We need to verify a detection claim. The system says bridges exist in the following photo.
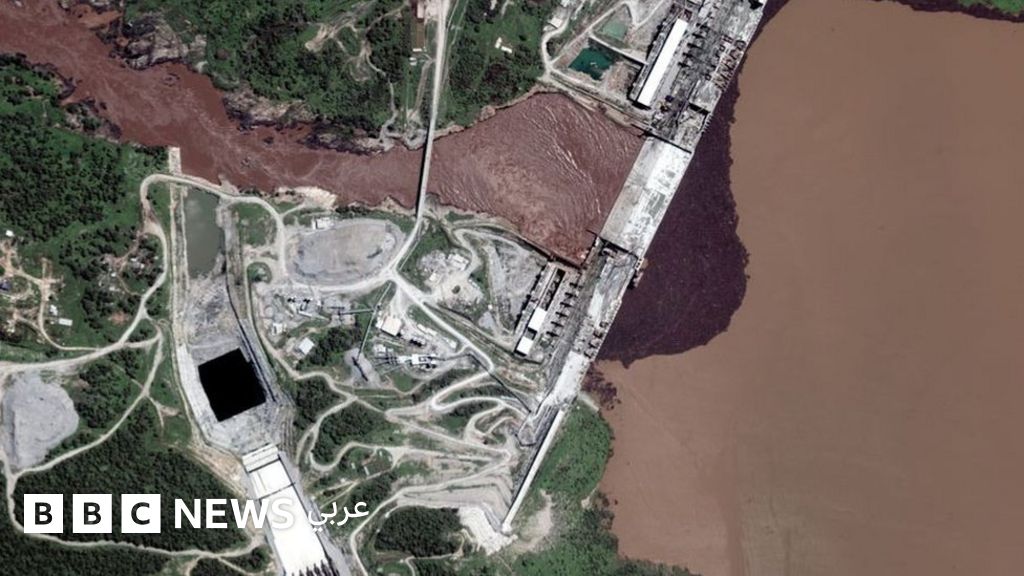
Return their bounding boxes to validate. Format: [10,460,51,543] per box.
[415,119,434,218]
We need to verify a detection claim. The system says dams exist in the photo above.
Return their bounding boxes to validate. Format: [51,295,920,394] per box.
[500,0,766,539]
